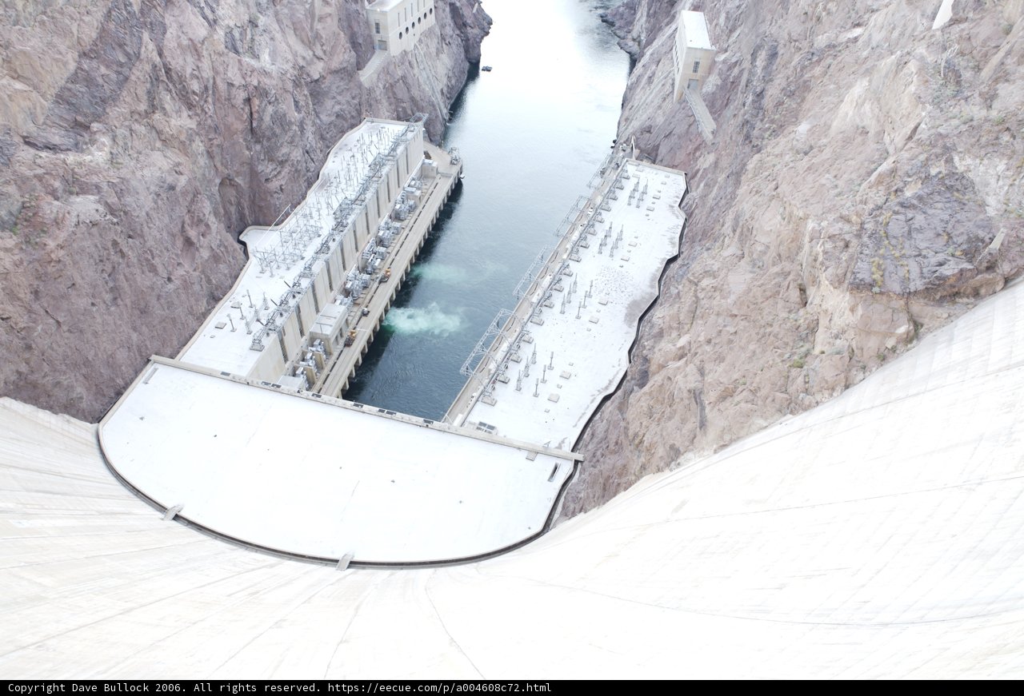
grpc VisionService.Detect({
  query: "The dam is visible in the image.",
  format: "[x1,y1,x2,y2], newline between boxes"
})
[0,269,1024,696]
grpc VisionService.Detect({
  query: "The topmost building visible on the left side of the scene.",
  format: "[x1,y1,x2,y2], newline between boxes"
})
[366,0,436,74]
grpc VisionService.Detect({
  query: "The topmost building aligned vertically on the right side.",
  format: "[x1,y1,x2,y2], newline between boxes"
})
[670,9,715,118]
